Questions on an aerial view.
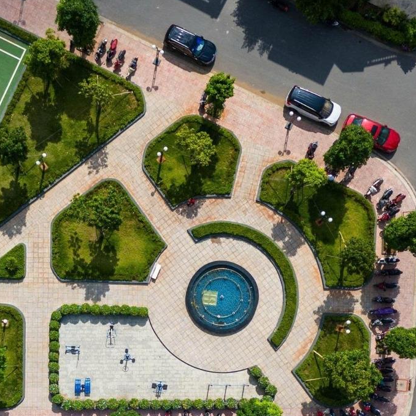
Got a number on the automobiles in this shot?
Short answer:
three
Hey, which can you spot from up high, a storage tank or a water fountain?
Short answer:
water fountain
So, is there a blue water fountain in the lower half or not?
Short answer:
Yes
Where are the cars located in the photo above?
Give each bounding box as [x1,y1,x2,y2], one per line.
[341,110,401,154]
[160,23,218,68]
[283,83,341,128]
